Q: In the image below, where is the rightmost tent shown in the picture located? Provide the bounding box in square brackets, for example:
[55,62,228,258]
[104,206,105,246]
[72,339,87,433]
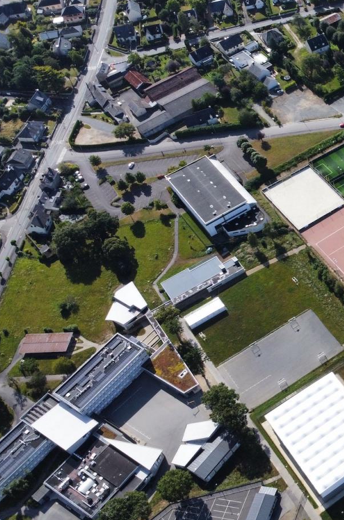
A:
[185,297,226,330]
